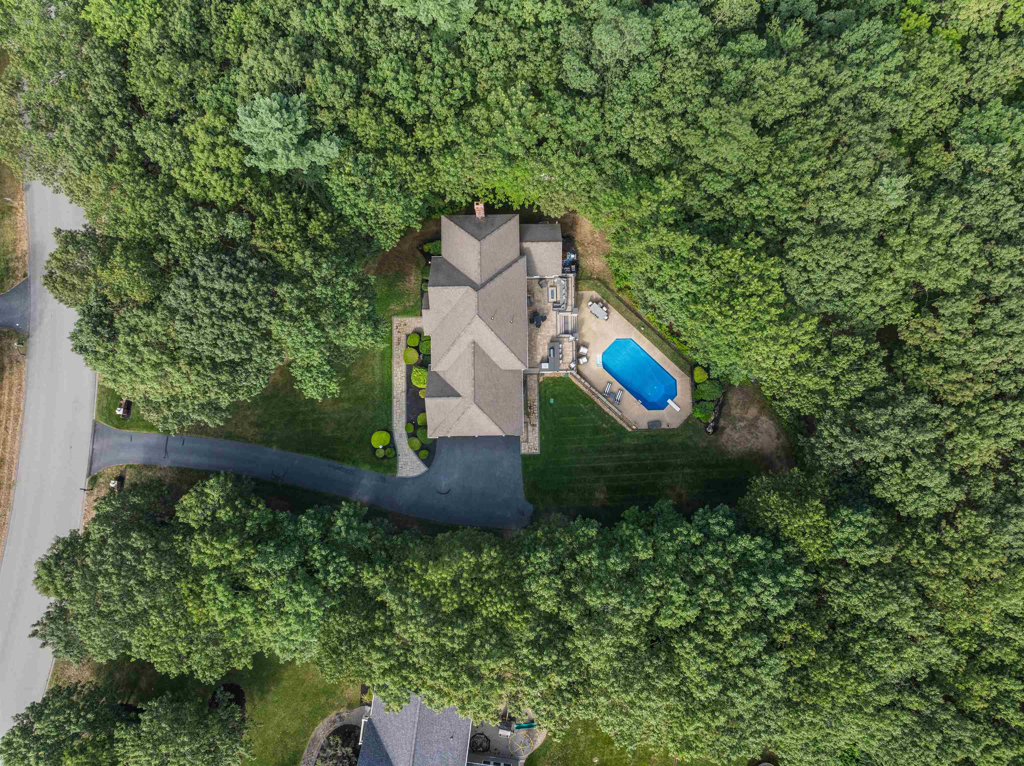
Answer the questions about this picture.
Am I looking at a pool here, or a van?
pool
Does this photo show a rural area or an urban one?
rural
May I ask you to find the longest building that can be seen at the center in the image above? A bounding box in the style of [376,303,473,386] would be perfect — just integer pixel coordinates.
[422,201,562,438]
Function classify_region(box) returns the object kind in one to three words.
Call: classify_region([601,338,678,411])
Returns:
swimming pool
